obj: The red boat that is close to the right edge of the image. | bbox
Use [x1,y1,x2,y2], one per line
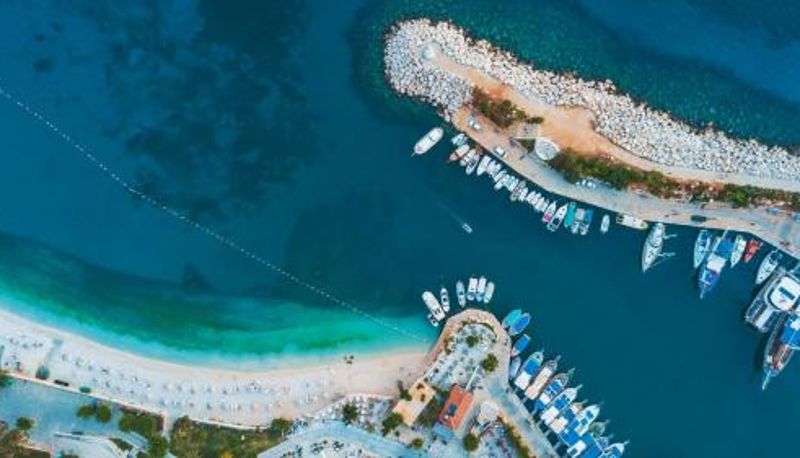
[746,239,760,262]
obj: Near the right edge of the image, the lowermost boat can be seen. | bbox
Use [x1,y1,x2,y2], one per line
[769,307,800,388]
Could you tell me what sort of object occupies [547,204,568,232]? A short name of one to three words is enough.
boat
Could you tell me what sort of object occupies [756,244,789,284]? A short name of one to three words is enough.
boat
